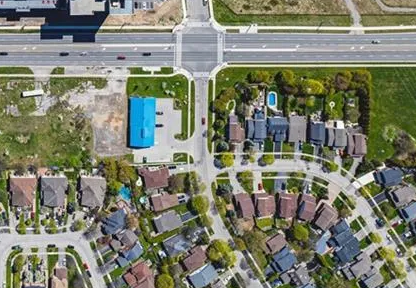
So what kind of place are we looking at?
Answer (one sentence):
It's a residential area.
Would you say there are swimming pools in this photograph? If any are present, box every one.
[269,92,276,107]
[119,185,132,202]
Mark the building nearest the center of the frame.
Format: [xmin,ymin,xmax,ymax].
[225,117,244,143]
